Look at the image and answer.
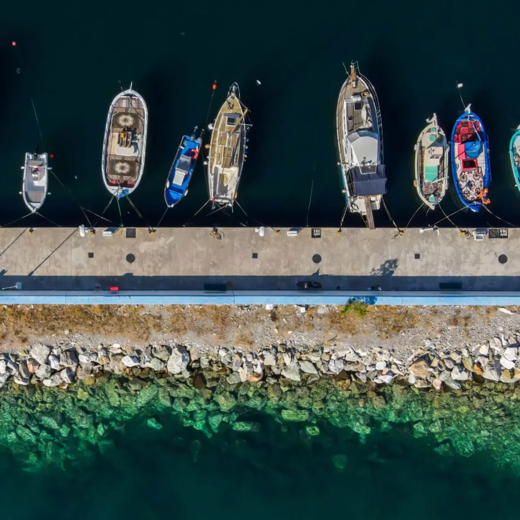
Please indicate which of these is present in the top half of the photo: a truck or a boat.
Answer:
boat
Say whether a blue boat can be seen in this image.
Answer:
Yes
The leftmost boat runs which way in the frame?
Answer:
vertically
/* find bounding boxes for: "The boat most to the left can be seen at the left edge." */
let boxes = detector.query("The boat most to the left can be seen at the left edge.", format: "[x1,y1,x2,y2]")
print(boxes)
[24,140,49,213]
